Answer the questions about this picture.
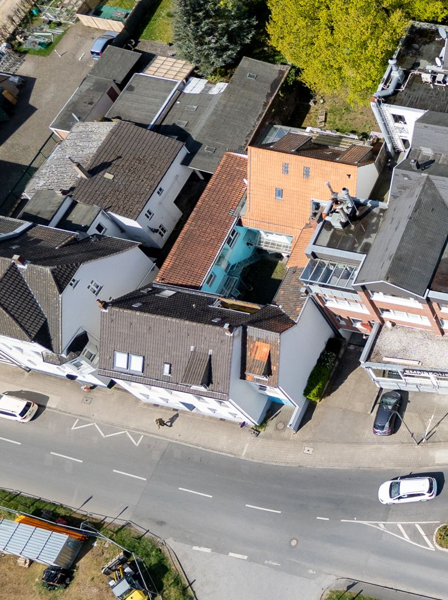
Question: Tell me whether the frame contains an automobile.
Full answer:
Yes, this view includes an automobile.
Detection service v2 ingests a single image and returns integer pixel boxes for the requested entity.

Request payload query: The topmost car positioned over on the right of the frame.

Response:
[373,389,404,439]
